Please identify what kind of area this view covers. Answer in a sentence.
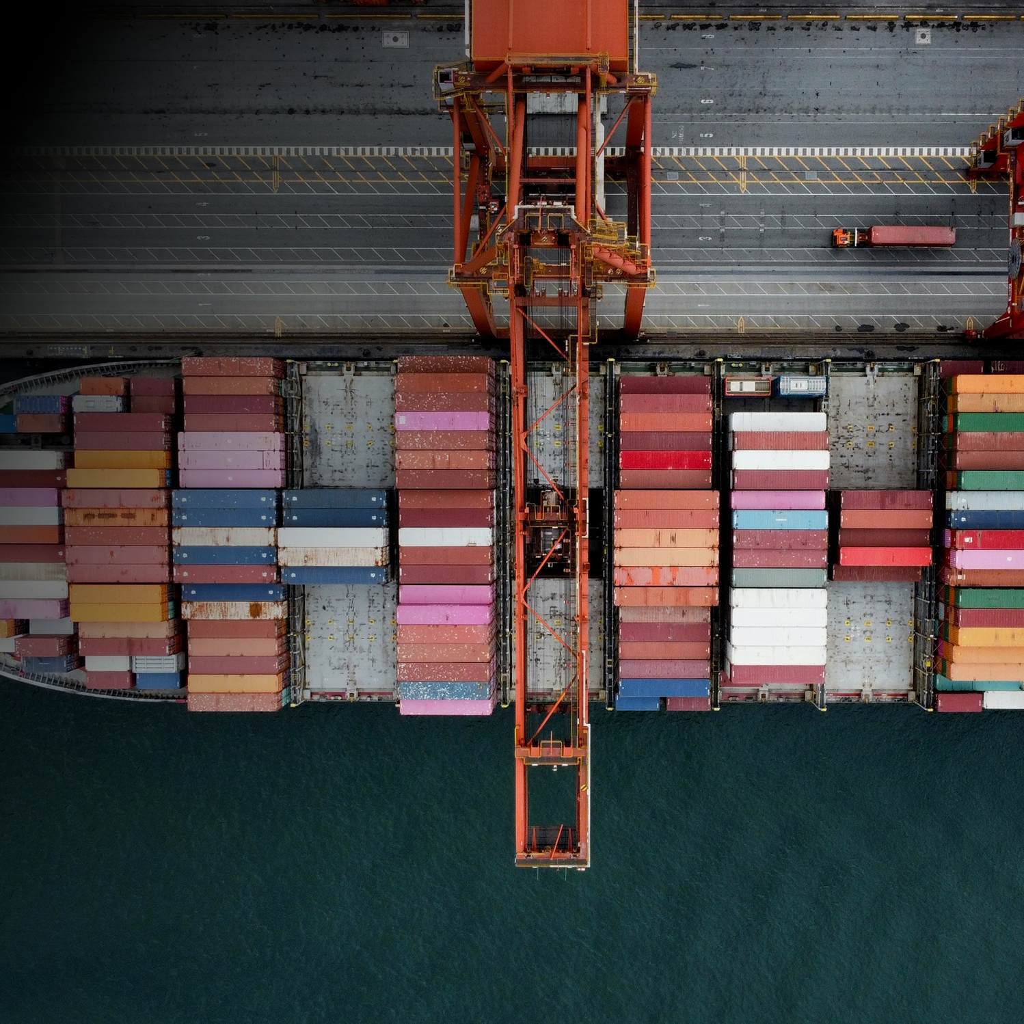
This image shows a port.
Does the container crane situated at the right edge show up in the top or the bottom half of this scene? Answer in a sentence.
Seen from above, the container crane situated at the right edge lies in the top half of the view.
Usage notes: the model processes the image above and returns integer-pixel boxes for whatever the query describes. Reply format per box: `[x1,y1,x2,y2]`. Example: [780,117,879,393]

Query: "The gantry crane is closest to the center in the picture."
[432,0,657,881]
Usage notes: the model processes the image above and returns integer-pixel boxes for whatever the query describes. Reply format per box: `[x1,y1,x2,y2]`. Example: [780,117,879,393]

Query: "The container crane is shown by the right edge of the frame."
[961,91,1024,344]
